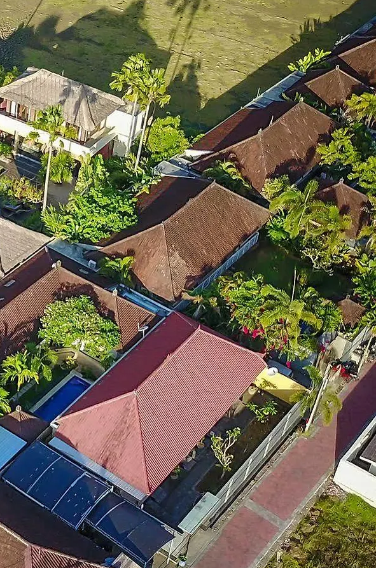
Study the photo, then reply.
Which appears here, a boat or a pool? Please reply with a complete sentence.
The image shows a pool.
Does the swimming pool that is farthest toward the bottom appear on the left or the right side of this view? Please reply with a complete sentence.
The swimming pool that is farthest toward the bottom is on the left side of the image.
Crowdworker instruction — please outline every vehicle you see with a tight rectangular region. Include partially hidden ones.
[343,356,359,371]
[335,353,343,373]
